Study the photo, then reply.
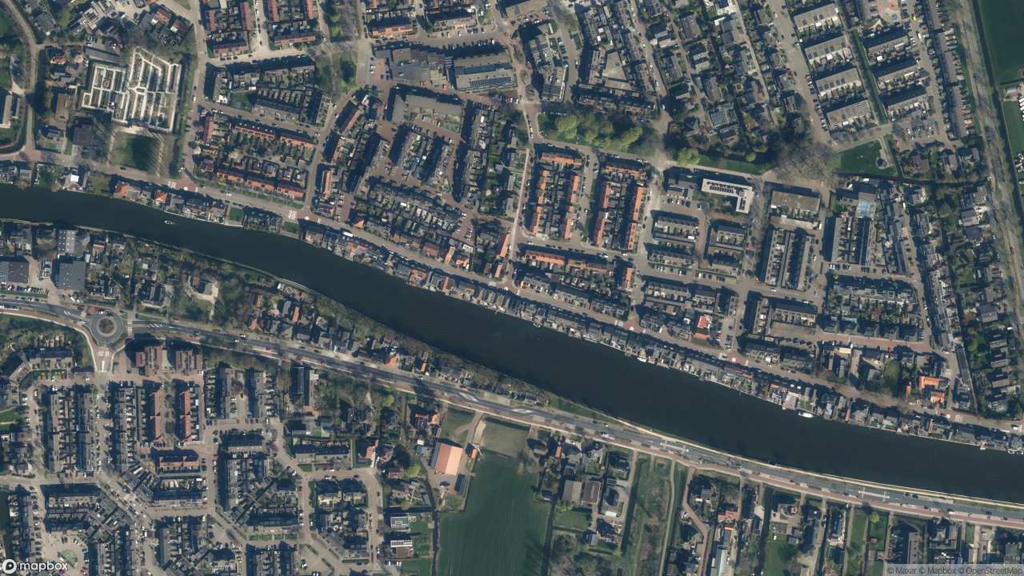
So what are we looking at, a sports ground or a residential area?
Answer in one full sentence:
This image shows a residential area.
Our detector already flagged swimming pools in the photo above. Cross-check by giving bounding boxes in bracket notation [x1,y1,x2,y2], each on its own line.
[855,204,876,218]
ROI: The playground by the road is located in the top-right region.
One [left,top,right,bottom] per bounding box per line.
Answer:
[877,0,901,22]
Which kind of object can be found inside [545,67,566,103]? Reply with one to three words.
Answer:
building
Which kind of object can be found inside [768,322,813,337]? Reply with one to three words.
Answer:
building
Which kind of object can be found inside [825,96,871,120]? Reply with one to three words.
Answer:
shed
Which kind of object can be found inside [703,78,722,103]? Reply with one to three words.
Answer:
house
